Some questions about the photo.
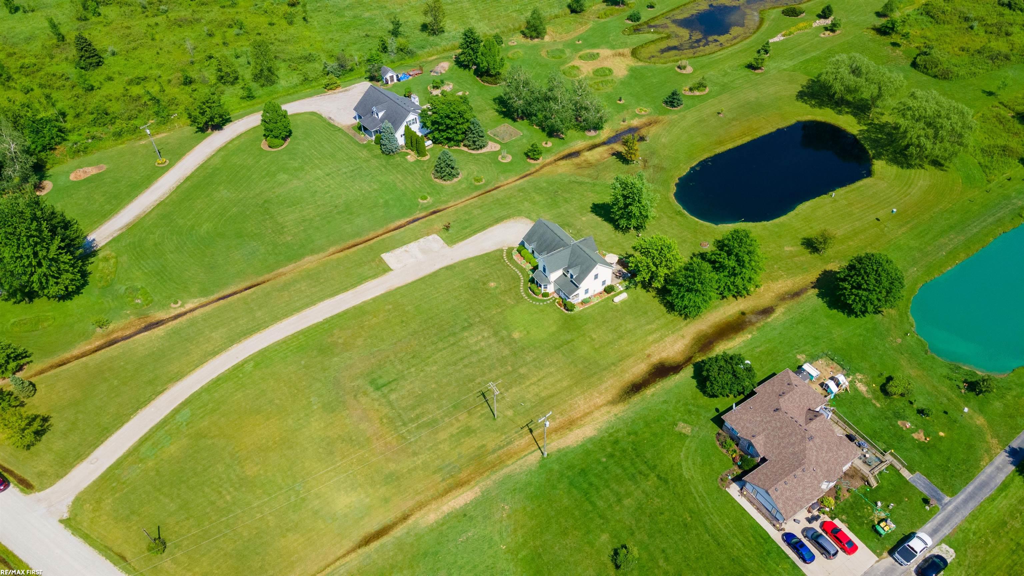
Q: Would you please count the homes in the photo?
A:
3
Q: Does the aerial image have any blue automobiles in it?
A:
Yes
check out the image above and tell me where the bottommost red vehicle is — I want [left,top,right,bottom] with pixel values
[818,518,863,559]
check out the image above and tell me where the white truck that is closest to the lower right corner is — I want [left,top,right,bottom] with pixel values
[890,532,935,572]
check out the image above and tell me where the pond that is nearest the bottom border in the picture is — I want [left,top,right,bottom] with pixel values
[909,225,1024,375]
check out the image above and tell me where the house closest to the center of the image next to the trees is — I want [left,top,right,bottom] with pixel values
[522,218,615,303]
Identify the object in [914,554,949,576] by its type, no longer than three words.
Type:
car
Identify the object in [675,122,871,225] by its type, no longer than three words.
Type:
pond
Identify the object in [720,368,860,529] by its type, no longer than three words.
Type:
house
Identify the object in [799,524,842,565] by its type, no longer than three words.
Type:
car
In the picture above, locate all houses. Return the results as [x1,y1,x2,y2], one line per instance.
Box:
[522,218,615,303]
[353,85,428,146]
[720,368,860,529]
